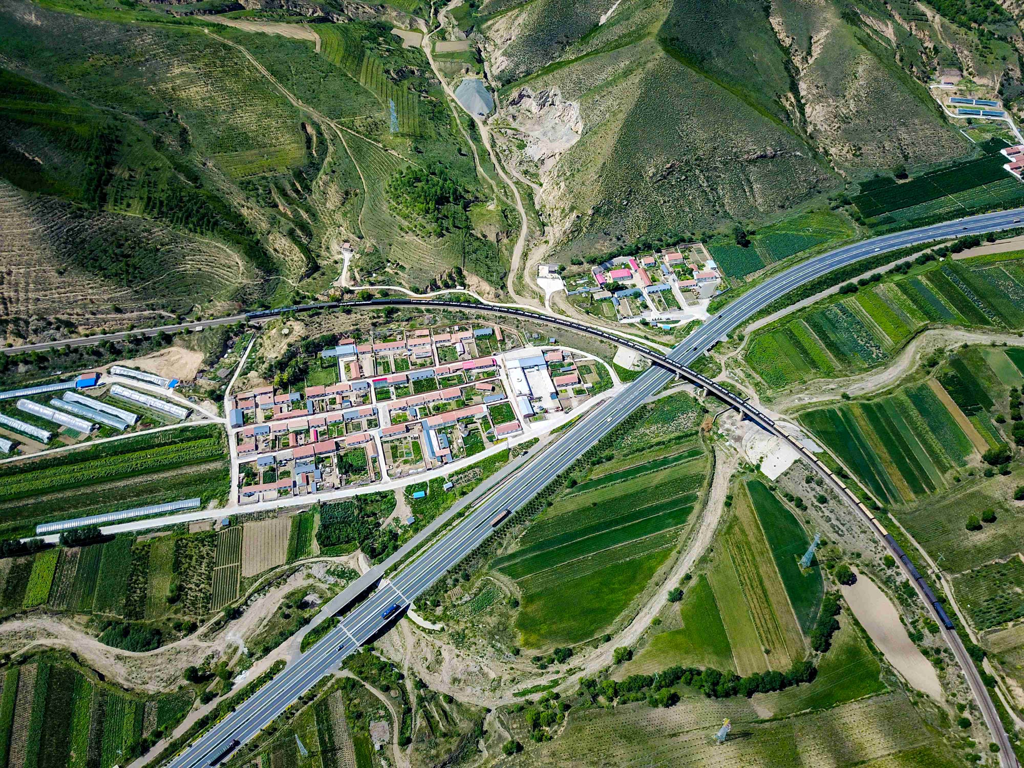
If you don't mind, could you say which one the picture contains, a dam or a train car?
train car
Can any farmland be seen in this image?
Yes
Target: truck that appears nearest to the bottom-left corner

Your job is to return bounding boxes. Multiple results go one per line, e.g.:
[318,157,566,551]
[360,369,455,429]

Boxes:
[206,735,243,767]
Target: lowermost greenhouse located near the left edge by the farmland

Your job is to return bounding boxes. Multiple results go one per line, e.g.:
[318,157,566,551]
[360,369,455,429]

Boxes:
[35,499,200,536]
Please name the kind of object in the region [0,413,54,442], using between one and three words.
greenhouse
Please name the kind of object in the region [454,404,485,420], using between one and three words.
house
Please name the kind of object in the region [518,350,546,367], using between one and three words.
building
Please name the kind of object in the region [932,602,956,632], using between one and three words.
rail car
